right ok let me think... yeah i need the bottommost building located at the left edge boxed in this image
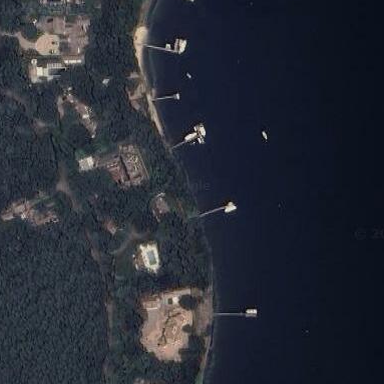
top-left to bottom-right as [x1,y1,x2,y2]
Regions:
[0,194,59,227]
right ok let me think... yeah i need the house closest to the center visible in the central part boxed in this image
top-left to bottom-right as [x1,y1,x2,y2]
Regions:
[150,191,170,216]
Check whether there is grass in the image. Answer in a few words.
Yes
